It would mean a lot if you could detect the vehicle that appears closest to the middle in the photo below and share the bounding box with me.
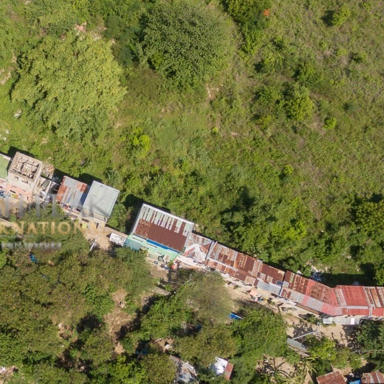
[105,231,129,249]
